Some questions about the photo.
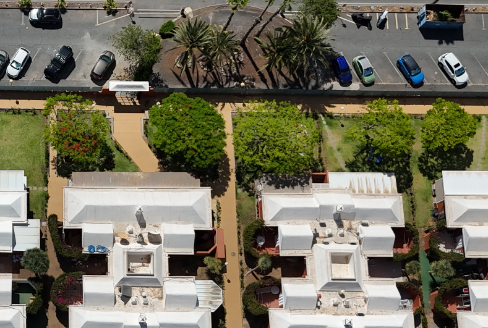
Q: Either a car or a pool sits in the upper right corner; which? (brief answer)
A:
car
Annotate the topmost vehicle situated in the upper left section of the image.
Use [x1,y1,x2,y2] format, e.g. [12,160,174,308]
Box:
[29,7,61,24]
